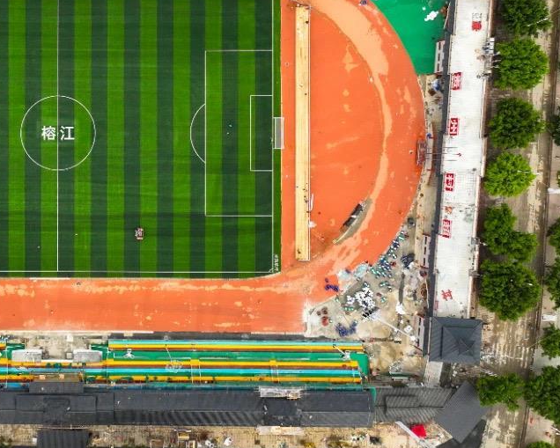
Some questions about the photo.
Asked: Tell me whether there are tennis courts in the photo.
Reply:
No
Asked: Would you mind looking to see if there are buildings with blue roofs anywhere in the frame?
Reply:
No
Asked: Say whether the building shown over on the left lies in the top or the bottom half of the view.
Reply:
bottom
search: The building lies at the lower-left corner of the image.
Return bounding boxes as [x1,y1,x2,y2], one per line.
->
[37,425,89,448]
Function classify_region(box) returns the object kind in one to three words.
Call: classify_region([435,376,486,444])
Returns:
building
